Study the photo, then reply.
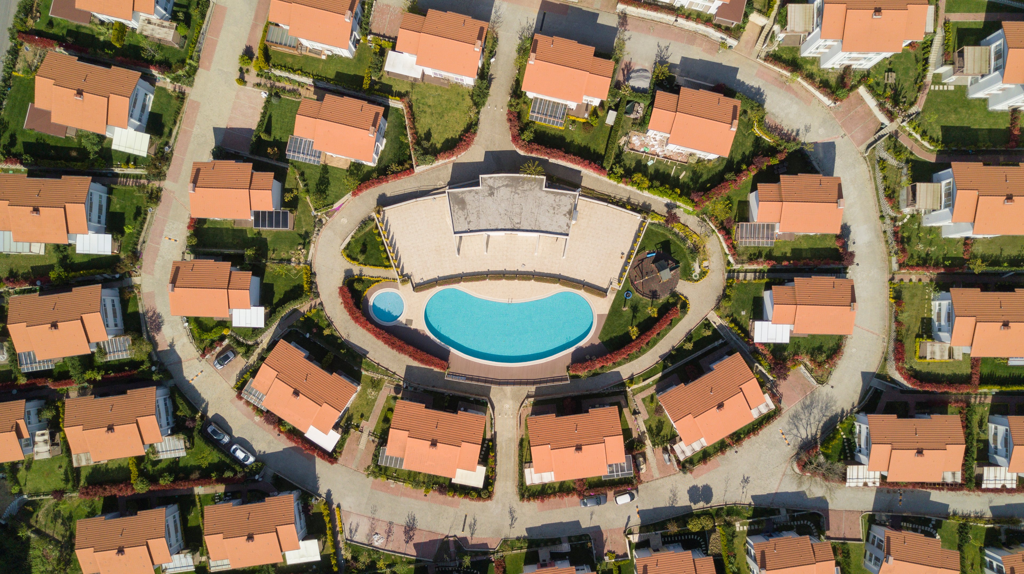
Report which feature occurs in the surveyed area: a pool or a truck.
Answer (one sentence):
There is a pool in the scene.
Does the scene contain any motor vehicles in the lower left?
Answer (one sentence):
Yes, you'll find a motor vehicle in the lower left.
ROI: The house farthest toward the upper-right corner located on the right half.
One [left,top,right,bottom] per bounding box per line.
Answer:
[971,18,1024,106]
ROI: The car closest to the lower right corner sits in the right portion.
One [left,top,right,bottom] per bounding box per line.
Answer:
[614,489,639,506]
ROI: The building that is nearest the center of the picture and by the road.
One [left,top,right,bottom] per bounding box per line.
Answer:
[446,174,579,259]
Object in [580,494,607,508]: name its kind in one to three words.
car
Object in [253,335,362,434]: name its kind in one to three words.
house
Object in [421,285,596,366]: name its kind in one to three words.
swimming pool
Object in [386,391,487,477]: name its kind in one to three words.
house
